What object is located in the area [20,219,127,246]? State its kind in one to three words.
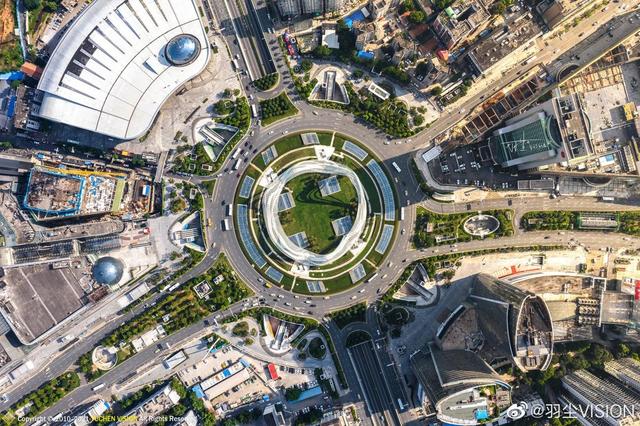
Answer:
building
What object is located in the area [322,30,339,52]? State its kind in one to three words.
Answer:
house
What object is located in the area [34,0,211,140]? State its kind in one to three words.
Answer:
building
